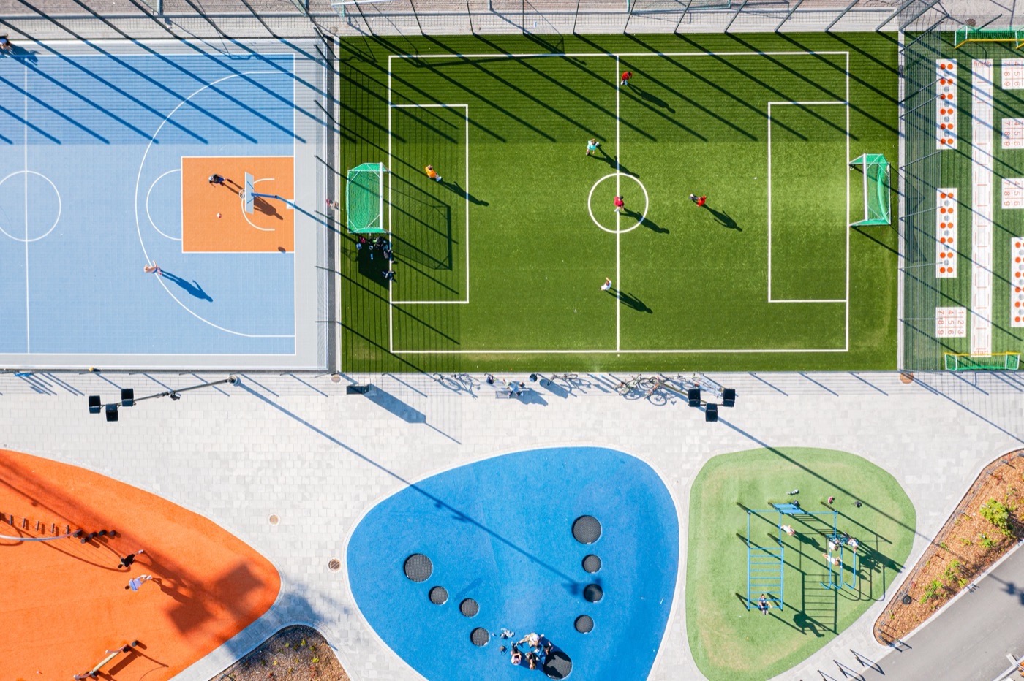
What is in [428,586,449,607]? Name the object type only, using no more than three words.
trampoline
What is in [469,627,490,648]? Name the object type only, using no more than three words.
trampoline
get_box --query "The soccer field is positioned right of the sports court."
[340,31,899,372]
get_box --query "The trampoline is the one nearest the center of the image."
[571,515,602,545]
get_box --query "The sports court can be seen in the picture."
[0,38,328,368]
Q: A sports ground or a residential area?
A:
sports ground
